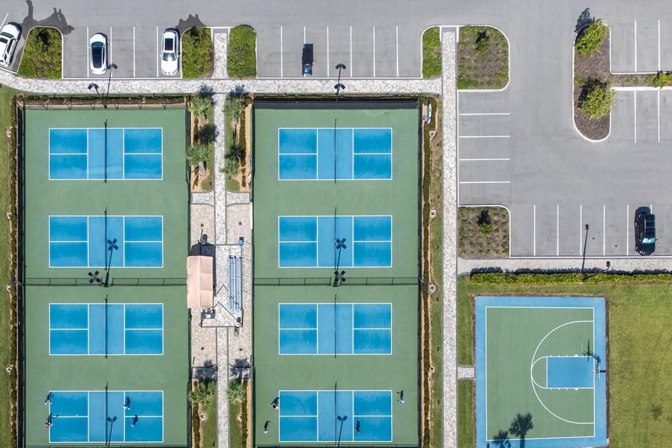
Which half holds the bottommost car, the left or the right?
right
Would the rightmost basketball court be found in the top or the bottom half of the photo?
bottom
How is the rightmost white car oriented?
vertically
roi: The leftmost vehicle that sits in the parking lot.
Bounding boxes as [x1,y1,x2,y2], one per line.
[0,23,22,66]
